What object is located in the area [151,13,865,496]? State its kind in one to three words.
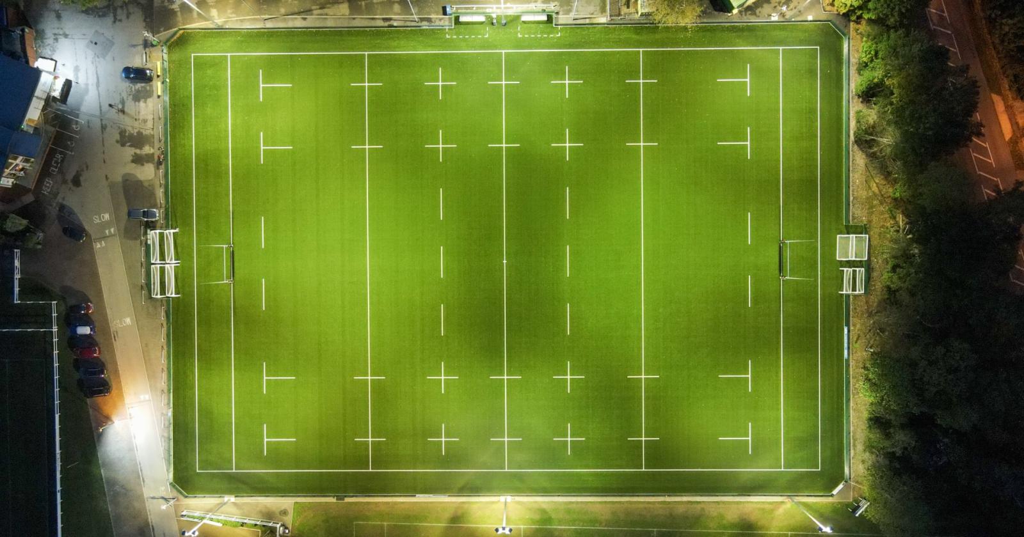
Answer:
sports field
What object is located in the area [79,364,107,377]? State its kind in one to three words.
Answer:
vehicle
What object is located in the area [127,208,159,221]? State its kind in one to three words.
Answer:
vehicle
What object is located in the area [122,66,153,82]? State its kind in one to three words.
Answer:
car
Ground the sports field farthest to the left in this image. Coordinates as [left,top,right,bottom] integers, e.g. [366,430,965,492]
[0,302,55,537]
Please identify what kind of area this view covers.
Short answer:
sports ground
